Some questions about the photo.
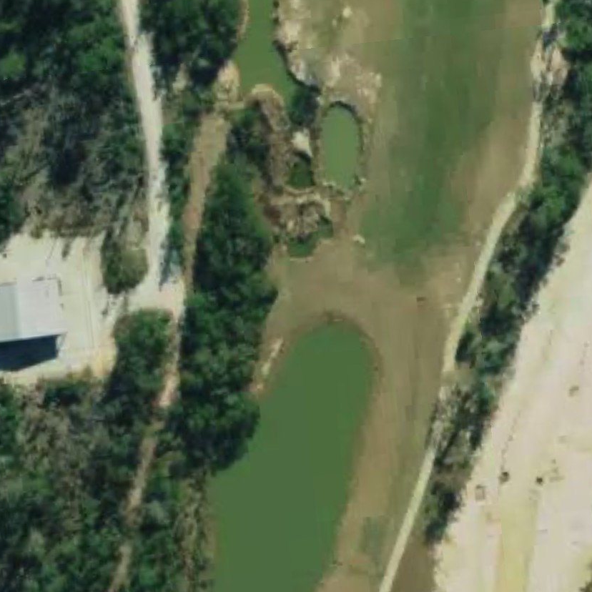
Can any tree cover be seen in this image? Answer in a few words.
Yes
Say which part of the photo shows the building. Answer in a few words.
left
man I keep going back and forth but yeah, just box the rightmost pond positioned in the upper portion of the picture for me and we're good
[323,105,360,187]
